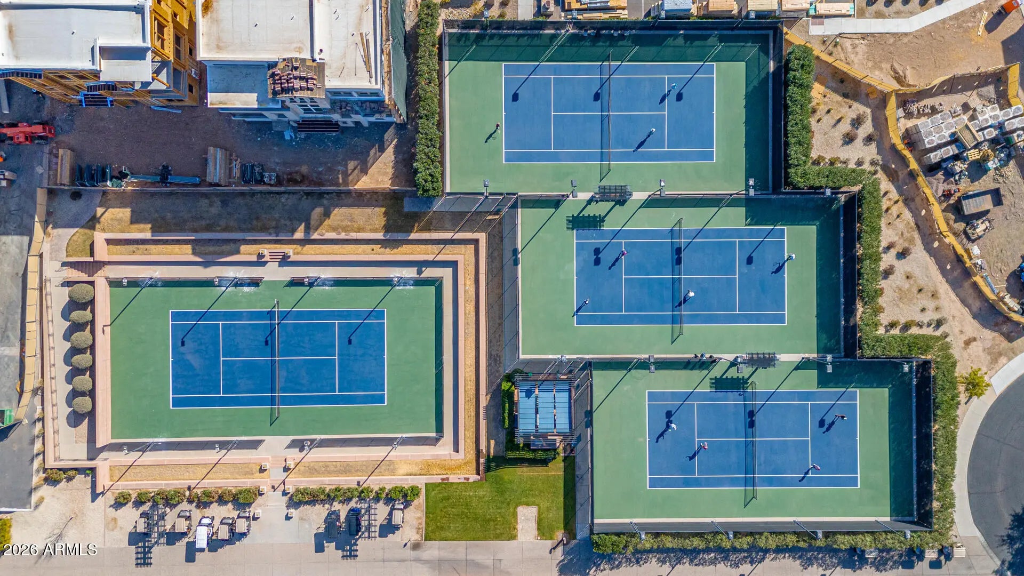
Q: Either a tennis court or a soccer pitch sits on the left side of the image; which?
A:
tennis court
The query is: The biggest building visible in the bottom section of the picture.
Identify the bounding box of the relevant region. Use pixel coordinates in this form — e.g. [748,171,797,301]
[515,373,576,447]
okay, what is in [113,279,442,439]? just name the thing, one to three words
tennis court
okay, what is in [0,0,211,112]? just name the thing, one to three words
building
